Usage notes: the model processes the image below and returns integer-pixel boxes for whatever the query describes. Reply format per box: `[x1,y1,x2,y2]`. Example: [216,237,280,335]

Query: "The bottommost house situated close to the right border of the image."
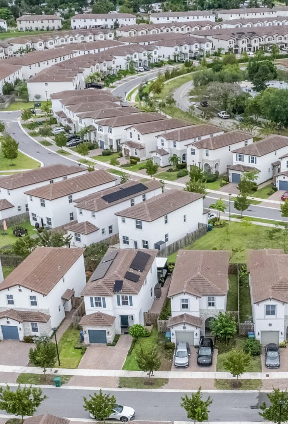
[246,249,288,345]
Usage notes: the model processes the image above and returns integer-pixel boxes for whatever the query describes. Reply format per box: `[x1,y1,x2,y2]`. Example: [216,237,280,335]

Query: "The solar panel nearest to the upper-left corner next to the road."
[110,179,152,198]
